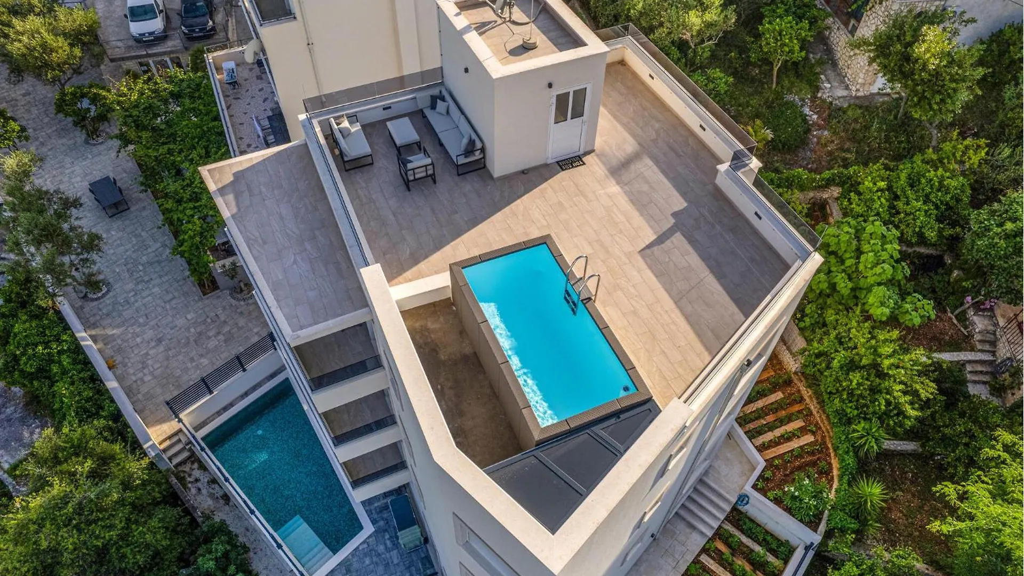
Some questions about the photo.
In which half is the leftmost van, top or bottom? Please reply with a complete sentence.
You can find the leftmost van in the top half.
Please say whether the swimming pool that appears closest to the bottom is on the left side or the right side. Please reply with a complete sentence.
The swimming pool that appears closest to the bottom appears in the left half of the scene.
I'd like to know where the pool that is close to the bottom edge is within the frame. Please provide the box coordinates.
[195,368,375,576]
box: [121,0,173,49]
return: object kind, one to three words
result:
van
